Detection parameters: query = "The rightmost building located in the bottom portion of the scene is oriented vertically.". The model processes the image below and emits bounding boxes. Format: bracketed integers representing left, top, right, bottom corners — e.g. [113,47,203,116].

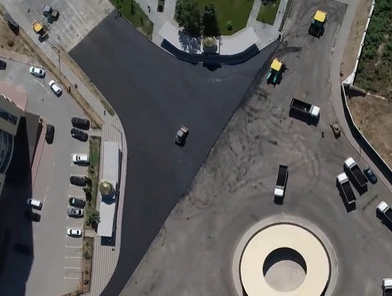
[97,141,119,236]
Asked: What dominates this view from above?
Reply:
paved ground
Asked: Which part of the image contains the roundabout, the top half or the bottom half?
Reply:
bottom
